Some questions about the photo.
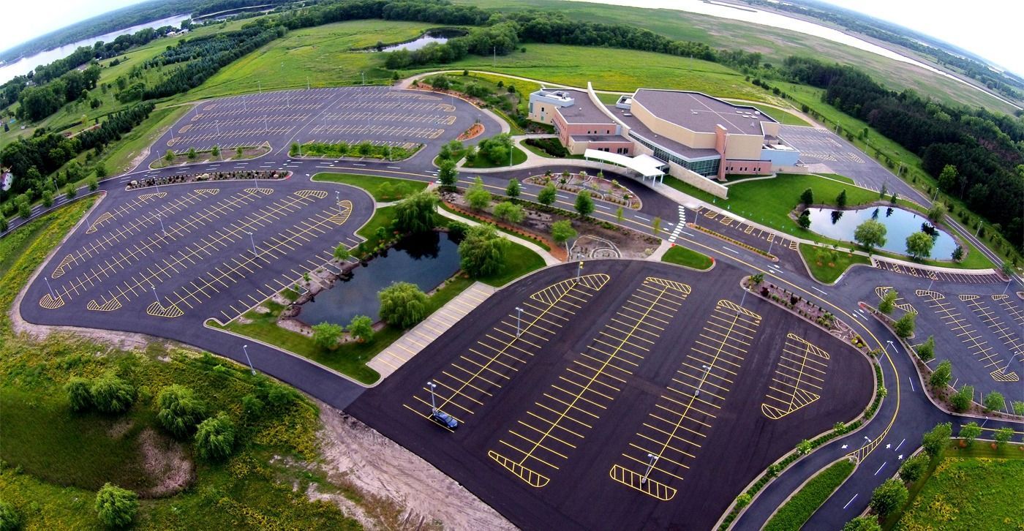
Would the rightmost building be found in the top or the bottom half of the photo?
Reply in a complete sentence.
Seen from above, the rightmost building lies in the top half of the view.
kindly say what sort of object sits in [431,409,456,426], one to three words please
car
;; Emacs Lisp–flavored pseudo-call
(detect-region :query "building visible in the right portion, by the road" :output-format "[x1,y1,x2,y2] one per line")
[526,78,809,199]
